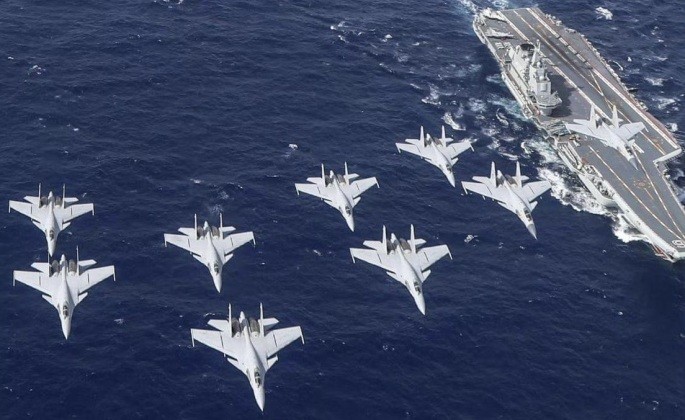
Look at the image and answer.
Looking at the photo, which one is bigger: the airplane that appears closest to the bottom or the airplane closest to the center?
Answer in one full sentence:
The airplane that appears closest to the bottom takes up more space than the airplane closest to the center does.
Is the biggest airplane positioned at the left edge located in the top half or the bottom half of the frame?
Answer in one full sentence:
It is in the bottom half that the biggest airplane positioned at the left edge appears.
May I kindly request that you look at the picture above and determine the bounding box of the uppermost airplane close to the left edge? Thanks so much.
[8,182,94,255]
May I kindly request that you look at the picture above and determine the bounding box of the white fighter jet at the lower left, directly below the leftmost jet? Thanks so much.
[13,245,115,339]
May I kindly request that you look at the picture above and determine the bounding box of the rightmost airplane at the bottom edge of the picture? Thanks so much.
[190,300,304,411]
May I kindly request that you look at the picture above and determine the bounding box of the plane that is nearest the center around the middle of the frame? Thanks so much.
[295,160,379,231]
